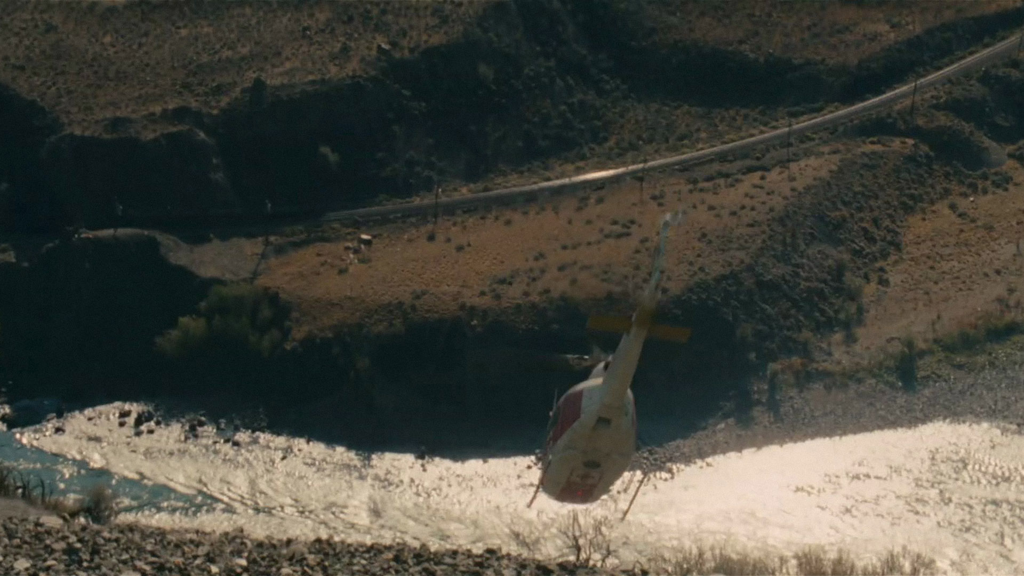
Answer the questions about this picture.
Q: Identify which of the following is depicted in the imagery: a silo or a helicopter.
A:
helicopter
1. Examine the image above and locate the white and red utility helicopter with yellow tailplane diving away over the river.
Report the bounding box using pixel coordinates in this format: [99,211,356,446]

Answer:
[341,196,861,518]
